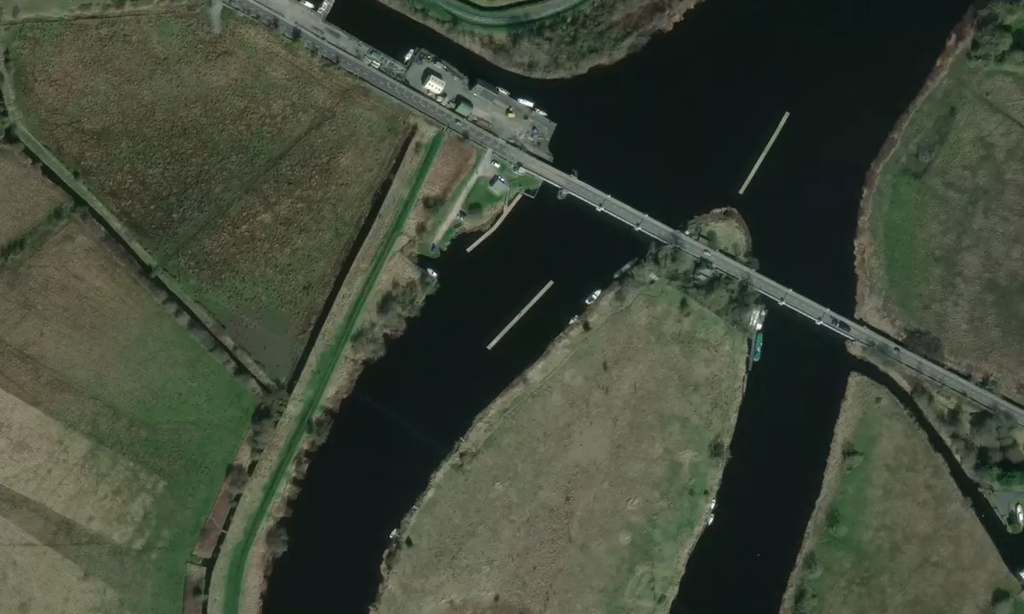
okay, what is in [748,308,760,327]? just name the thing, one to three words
boat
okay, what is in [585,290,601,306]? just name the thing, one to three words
boat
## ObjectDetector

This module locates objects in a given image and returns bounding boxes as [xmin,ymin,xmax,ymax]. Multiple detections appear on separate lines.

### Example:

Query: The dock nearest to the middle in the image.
[487,281,553,349]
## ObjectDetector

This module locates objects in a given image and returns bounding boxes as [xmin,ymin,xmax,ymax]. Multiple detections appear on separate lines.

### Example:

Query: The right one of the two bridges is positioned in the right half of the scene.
[750,272,863,342]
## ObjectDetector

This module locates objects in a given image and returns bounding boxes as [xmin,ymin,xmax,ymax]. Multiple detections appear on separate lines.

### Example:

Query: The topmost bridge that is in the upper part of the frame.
[526,156,677,245]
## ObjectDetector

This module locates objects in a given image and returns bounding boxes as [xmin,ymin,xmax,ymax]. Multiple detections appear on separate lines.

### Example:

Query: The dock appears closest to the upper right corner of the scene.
[740,112,789,194]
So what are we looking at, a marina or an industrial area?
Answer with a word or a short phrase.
marina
